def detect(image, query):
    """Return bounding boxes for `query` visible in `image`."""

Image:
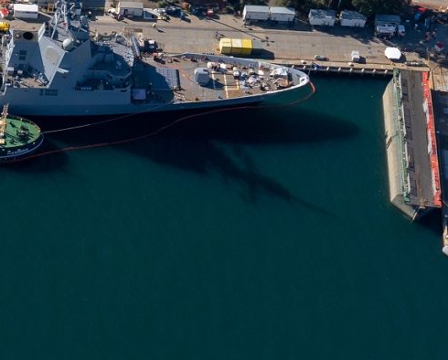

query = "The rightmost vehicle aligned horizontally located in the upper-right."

[374,21,408,36]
